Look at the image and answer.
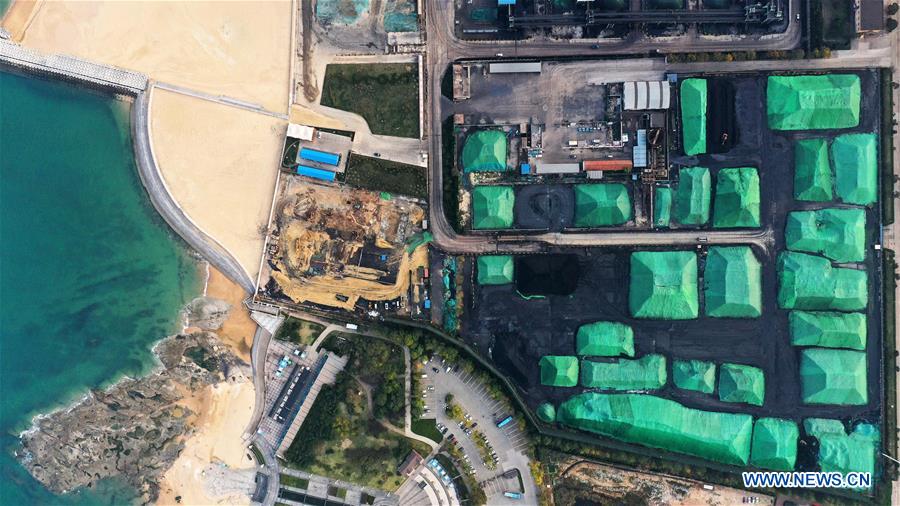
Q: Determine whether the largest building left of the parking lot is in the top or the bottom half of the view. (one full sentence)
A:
The largest building left of the parking lot sits in the bottom half of the picture.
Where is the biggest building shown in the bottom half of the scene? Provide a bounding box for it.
[276,353,350,454]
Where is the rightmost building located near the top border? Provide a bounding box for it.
[853,0,883,34]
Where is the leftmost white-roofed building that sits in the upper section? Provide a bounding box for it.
[287,124,315,141]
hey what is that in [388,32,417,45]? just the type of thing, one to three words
building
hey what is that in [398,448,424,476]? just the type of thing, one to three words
house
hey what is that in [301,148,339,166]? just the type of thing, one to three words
shed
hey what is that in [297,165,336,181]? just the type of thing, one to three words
shed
